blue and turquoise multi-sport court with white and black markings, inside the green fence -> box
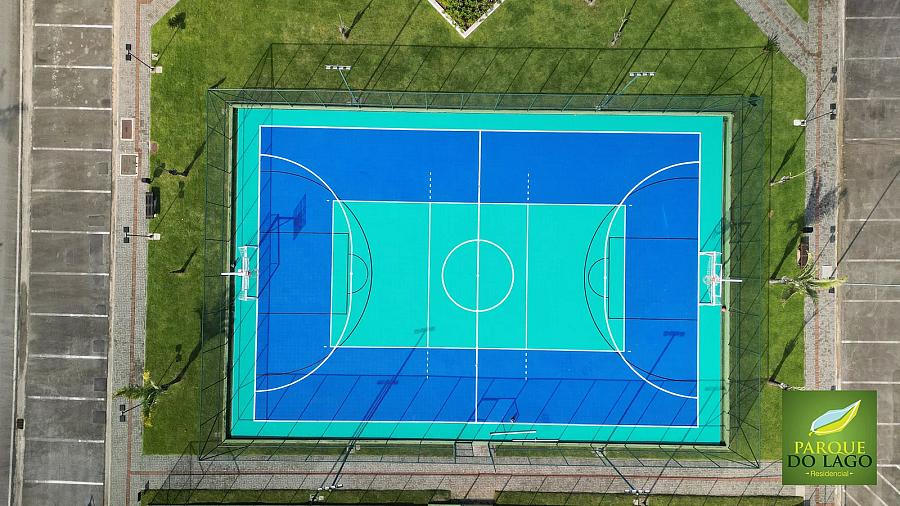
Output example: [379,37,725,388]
[229,111,727,445]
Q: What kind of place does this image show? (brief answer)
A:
sports ground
